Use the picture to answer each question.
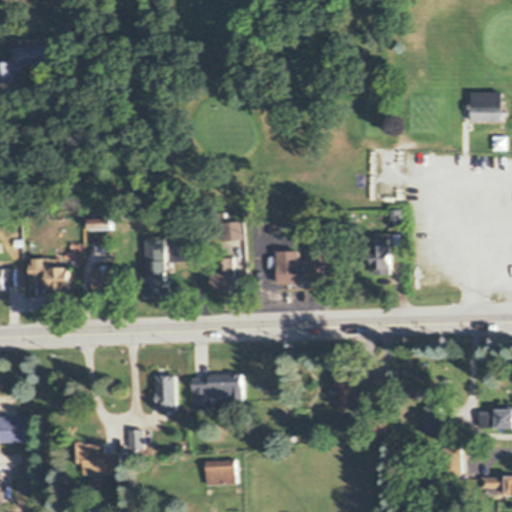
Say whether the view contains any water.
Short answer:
No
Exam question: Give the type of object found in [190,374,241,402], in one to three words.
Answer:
house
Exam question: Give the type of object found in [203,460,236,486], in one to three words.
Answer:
barn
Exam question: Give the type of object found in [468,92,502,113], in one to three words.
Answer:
building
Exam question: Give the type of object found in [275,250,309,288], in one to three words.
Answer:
house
